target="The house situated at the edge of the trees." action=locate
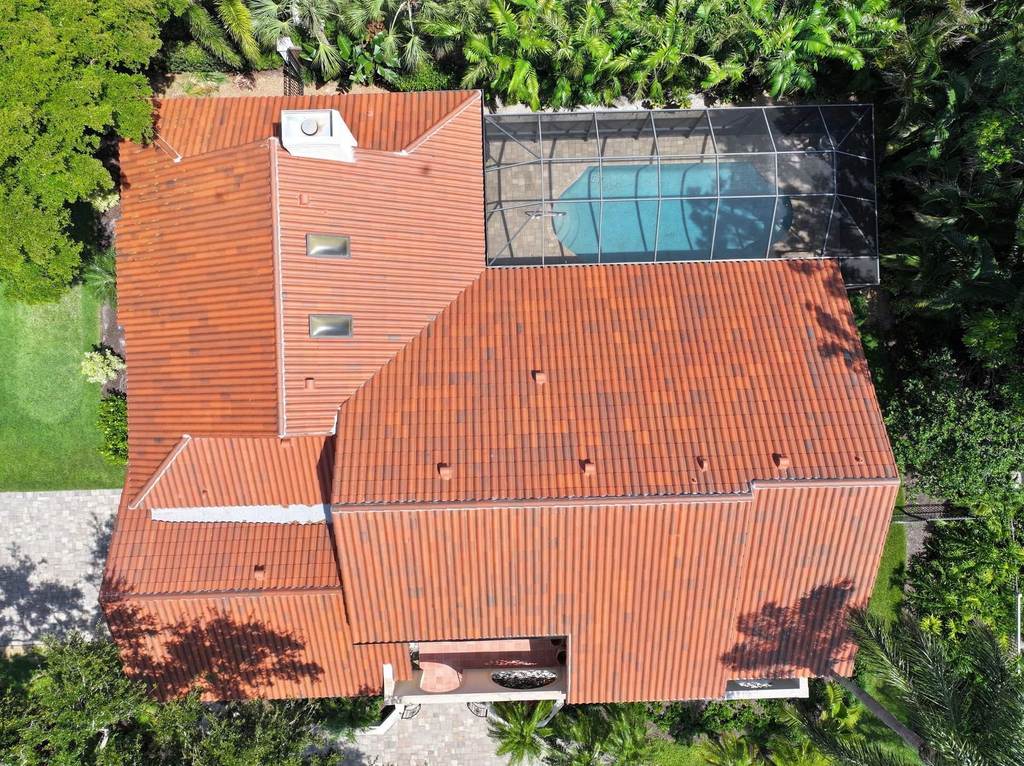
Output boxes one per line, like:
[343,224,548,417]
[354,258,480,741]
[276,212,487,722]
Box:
[92,88,905,707]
